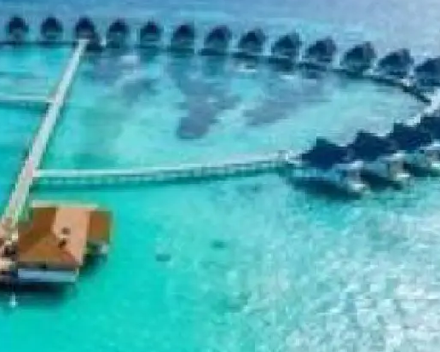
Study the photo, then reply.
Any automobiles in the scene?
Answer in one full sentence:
No, the scene contains no automobile.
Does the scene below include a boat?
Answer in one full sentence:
No, this view has no boat in it.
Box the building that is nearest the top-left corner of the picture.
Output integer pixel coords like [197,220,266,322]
[1,17,32,43]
